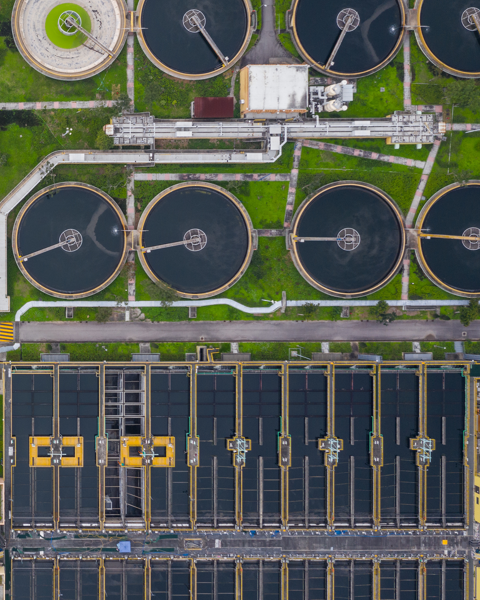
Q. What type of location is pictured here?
industrial area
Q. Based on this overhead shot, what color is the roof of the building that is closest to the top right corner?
white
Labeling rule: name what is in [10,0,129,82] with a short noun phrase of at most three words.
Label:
storage tank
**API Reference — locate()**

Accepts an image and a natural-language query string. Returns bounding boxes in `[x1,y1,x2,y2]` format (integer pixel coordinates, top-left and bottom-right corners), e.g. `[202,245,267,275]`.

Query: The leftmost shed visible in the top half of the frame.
[190,97,234,119]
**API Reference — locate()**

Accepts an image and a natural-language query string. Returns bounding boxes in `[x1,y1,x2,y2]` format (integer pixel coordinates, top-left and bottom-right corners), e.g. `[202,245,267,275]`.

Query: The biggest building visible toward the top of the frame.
[241,63,308,117]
